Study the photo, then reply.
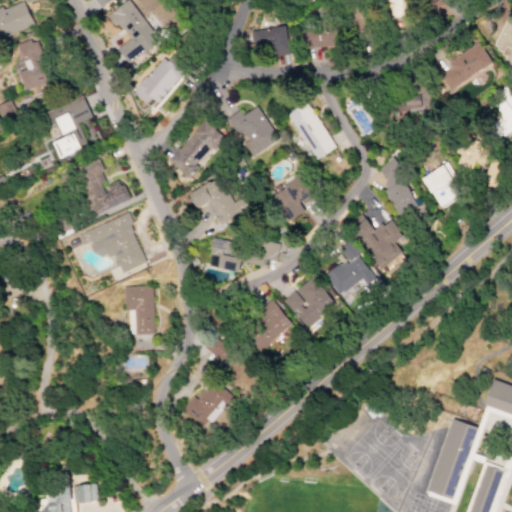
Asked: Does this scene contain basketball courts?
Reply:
Yes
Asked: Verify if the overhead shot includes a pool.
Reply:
Yes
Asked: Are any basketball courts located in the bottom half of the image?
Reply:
Yes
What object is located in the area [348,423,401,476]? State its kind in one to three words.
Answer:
basketball court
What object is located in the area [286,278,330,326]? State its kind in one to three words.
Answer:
house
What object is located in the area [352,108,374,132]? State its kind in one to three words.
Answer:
swimming pool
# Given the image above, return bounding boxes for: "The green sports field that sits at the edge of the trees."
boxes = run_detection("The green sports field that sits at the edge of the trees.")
[247,482,390,512]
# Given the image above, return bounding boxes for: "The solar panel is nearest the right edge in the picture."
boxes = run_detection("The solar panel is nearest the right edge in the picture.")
[482,470,502,512]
